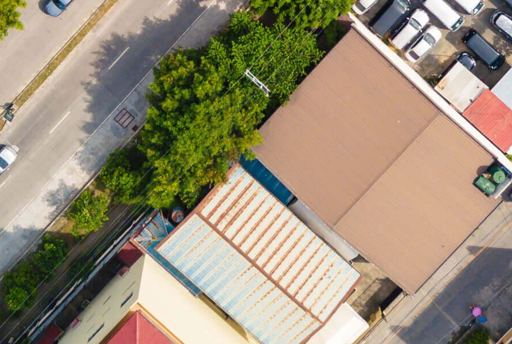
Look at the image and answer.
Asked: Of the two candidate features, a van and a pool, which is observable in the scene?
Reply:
van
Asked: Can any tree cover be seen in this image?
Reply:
Yes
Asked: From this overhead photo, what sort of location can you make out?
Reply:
industrial area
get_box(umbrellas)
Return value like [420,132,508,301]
[477,315,487,324]
[471,305,483,317]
